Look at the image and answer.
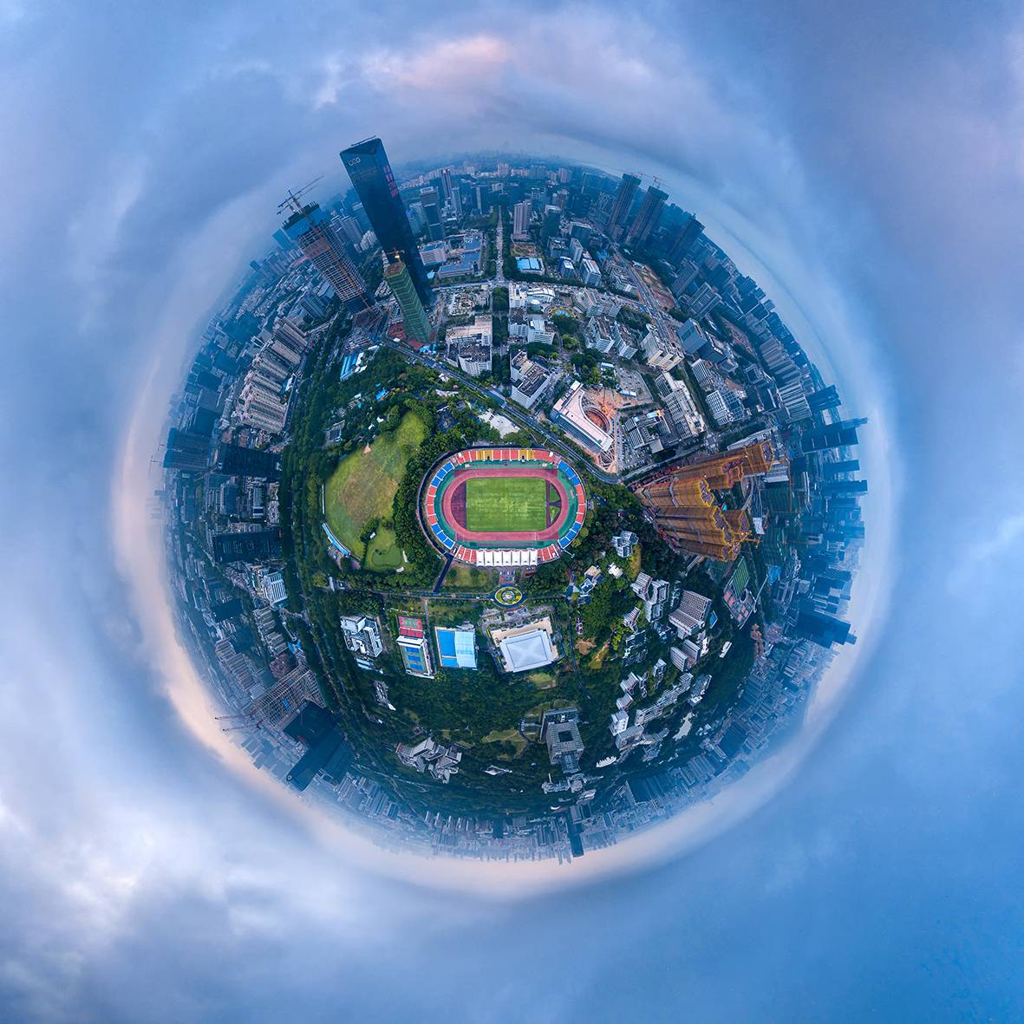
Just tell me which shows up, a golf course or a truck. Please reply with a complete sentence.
Visible in the photo is a golf course.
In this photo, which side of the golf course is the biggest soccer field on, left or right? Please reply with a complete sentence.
Relative to the golf course, the biggest soccer field is on the right.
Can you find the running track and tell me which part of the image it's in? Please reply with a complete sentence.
The running track is located in the center region of the scene.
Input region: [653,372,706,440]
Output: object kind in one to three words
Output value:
building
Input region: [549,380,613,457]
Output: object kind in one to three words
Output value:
building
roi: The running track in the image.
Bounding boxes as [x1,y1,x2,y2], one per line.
[446,470,567,539]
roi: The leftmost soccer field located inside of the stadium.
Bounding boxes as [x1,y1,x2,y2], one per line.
[468,479,545,531]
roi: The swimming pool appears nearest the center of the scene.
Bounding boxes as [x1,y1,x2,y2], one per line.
[435,627,460,668]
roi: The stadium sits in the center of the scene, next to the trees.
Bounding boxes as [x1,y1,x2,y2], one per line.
[427,447,586,567]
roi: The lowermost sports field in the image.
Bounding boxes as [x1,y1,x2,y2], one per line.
[722,563,761,629]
